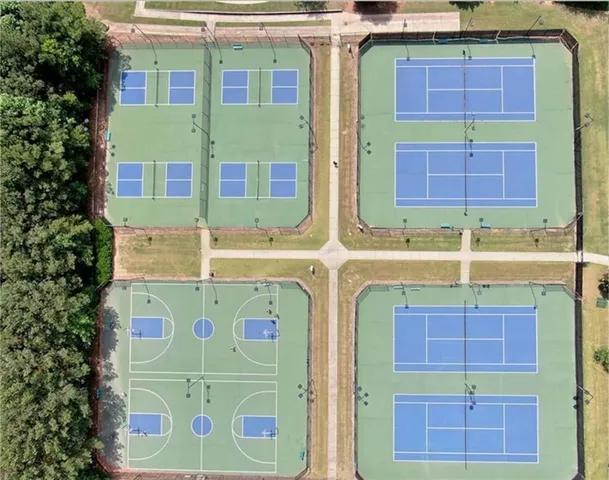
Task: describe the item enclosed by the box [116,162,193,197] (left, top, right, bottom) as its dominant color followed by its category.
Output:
blue sports court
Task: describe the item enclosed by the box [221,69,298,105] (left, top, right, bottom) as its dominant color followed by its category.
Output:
blue sports court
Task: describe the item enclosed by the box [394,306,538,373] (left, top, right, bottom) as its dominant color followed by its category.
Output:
blue tennis court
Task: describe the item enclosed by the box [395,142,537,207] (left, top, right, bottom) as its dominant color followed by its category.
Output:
blue tennis court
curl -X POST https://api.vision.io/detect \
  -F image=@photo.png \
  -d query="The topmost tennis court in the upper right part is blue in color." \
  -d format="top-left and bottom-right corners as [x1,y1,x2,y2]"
[395,57,536,121]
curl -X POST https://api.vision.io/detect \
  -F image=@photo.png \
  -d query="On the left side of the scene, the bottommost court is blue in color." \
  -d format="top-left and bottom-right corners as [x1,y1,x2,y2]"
[127,379,277,473]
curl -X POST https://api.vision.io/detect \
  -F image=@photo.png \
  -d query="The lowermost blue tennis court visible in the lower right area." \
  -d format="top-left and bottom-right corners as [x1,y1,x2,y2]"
[394,394,539,463]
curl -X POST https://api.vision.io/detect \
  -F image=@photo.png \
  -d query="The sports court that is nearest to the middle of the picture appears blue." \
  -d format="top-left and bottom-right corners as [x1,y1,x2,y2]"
[219,162,297,198]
